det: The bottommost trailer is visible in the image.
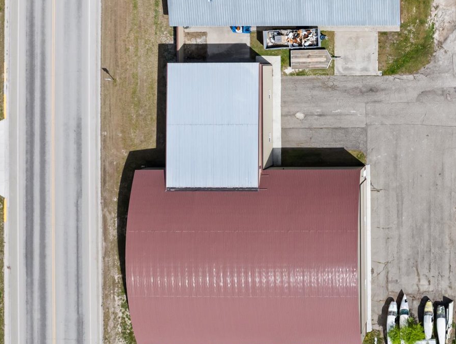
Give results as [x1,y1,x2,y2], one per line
[288,49,338,69]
